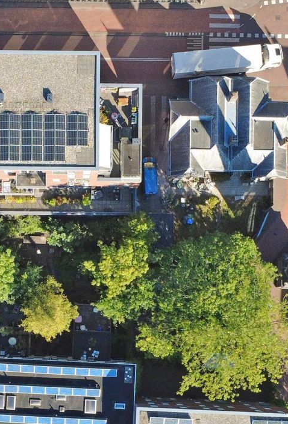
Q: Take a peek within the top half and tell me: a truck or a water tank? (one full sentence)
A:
The feature located within the top half is a truck.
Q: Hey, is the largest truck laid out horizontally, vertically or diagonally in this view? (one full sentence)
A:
Seen from above, the largest truck lies horizontally.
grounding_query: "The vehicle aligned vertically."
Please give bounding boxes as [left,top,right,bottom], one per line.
[142,159,158,197]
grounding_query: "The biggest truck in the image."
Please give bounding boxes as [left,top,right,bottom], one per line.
[171,43,280,79]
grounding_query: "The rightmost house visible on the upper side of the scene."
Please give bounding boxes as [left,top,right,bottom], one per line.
[165,79,288,183]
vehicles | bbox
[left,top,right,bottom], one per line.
[142,159,158,197]
[171,43,280,79]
